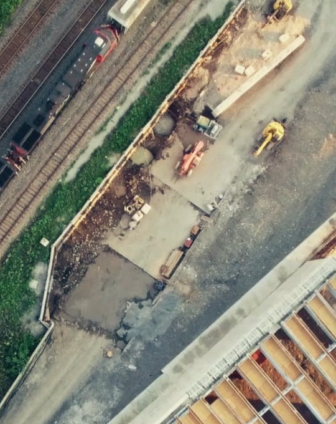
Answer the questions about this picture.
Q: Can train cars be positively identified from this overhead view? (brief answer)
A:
Yes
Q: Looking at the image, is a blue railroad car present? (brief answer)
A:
No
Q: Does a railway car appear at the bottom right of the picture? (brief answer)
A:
No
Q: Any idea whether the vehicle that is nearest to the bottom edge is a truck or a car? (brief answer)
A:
truck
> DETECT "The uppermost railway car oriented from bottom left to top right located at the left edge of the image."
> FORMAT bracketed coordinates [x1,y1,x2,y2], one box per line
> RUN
[10,18,121,160]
